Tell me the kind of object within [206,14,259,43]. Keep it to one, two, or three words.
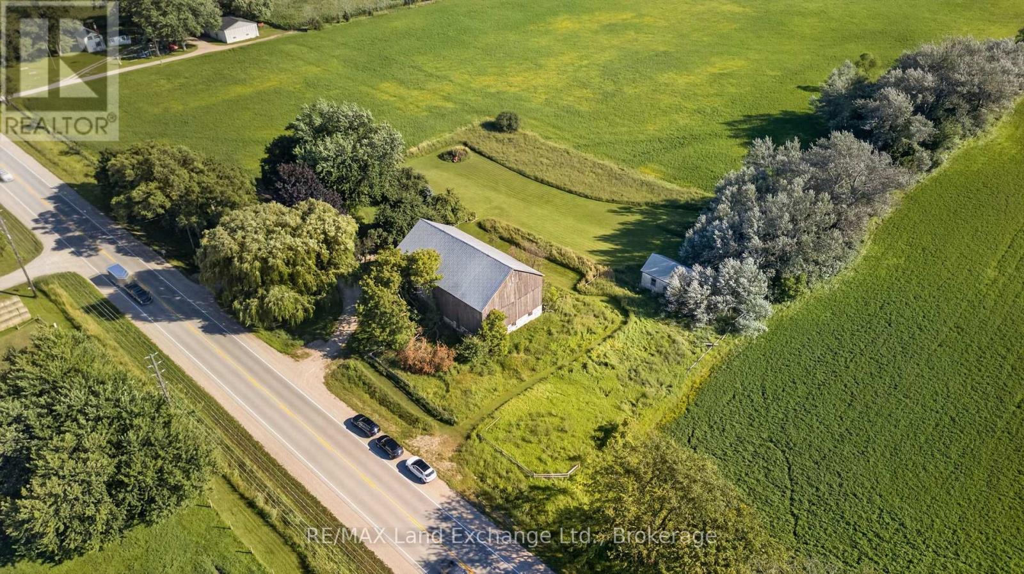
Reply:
building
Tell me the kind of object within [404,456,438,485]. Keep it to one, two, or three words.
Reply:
car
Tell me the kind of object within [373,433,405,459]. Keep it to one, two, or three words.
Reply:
car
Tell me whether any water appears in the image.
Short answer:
No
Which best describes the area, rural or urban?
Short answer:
rural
